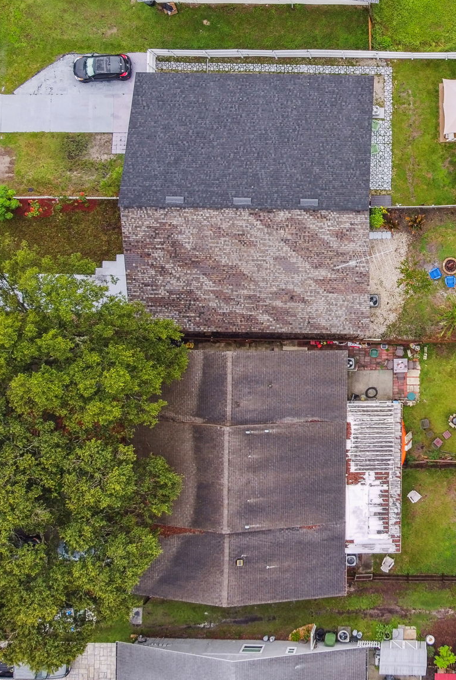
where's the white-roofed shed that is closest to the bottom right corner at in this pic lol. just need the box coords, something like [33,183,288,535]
[379,641,425,674]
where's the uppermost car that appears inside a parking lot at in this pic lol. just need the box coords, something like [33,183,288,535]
[76,52,132,83]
